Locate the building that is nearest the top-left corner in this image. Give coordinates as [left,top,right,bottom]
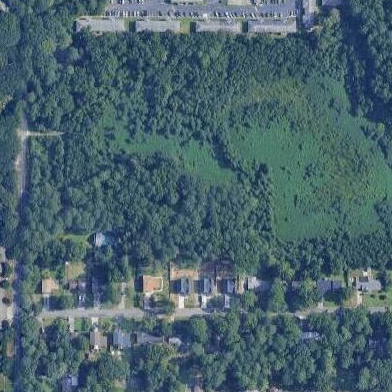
[75,20,125,32]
